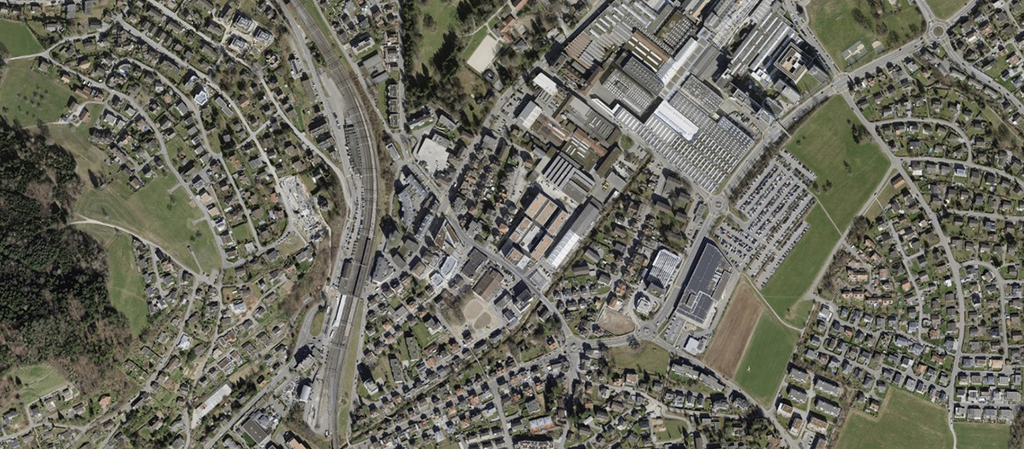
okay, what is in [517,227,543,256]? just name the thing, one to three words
building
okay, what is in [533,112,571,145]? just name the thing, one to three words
building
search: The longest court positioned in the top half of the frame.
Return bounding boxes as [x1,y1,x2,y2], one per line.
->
[467,35,499,73]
